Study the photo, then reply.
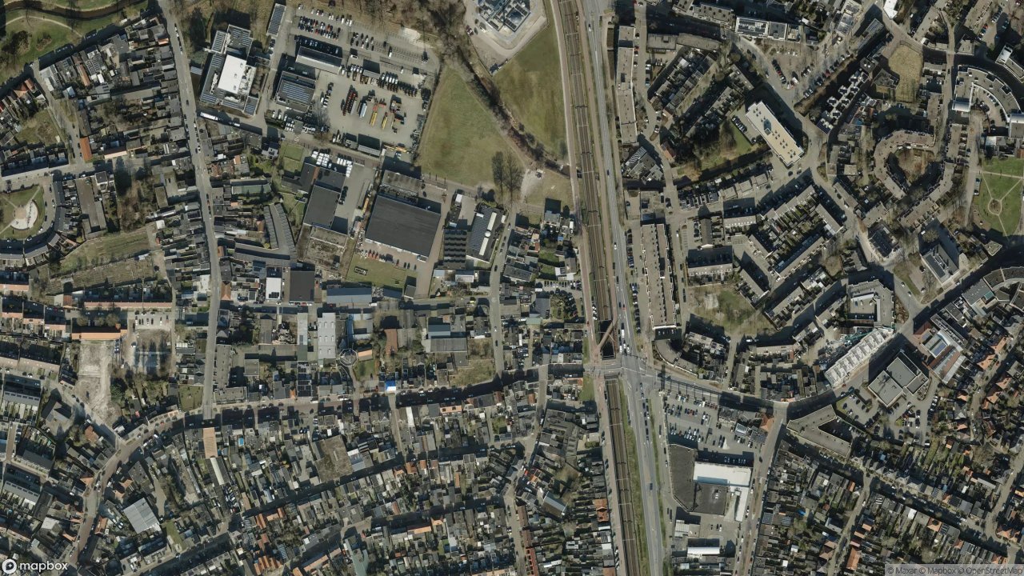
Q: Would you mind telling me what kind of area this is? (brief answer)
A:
residential area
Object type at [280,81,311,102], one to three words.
solar panel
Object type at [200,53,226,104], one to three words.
building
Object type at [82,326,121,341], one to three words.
building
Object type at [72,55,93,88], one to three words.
house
